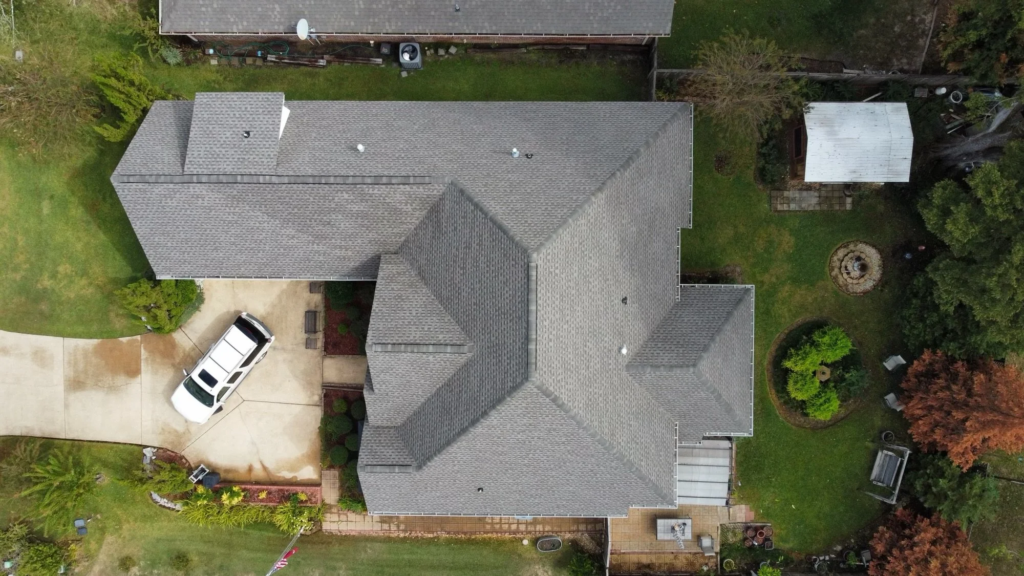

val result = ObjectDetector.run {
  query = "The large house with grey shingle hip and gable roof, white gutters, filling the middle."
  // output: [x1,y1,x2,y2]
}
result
[111,92,755,516]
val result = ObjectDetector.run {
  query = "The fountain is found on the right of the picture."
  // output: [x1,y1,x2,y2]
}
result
[830,241,884,295]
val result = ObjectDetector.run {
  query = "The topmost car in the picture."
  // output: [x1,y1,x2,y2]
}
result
[173,310,279,425]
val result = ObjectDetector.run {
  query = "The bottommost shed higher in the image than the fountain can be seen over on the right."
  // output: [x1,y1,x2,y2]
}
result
[791,102,914,183]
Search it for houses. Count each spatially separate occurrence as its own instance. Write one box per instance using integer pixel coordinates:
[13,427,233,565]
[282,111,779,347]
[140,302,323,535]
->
[111,92,755,516]
[154,0,672,47]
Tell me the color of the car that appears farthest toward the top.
white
